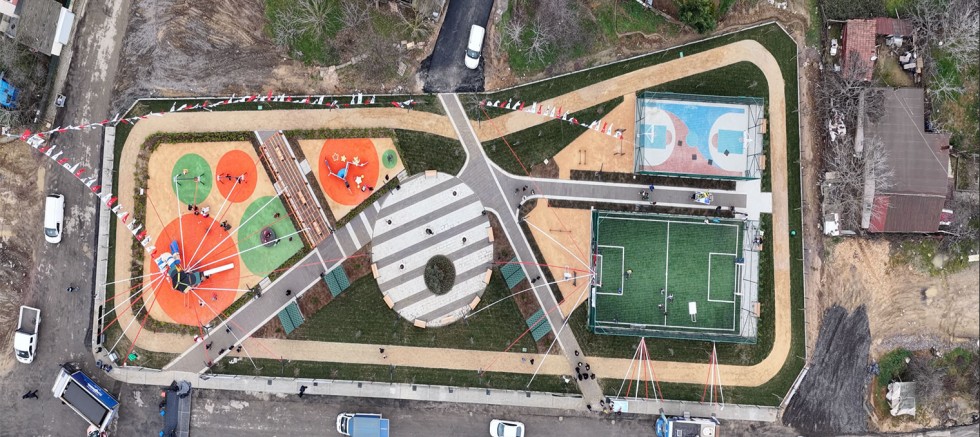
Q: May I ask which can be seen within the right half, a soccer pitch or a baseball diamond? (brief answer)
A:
soccer pitch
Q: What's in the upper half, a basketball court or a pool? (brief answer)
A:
basketball court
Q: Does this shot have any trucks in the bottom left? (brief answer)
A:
Yes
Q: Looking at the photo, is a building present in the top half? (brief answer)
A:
Yes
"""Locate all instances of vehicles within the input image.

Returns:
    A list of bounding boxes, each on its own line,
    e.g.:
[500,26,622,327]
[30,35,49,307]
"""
[489,420,525,437]
[335,412,387,437]
[12,306,44,363]
[464,25,483,73]
[43,193,67,244]
[54,362,121,427]
[657,415,723,437]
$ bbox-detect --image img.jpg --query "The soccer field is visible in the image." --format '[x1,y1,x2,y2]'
[591,210,744,336]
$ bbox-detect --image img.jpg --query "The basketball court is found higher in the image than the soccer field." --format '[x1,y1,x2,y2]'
[636,100,747,178]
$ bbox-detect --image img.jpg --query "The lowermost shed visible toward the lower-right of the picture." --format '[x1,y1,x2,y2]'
[883,381,915,416]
